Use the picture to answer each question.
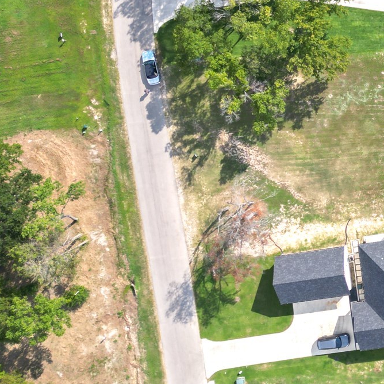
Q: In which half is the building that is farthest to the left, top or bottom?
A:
bottom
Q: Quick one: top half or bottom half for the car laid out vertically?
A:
top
